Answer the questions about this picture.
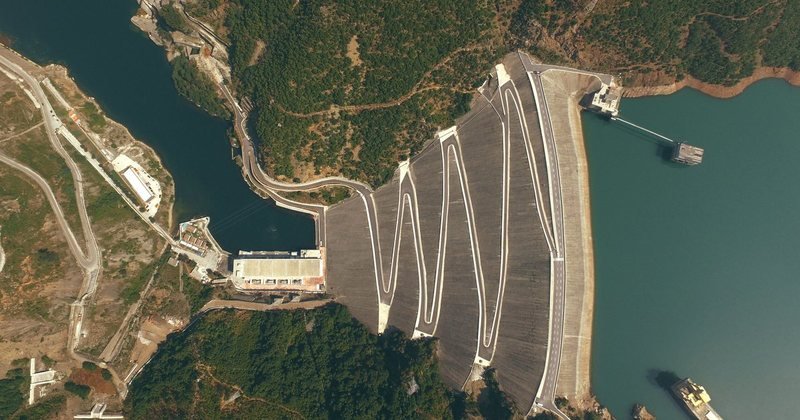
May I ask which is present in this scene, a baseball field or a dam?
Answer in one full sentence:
There is a dam in the scene.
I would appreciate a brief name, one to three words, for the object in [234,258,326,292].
building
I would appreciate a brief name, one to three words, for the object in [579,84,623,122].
building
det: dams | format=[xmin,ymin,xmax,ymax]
[325,52,594,416]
